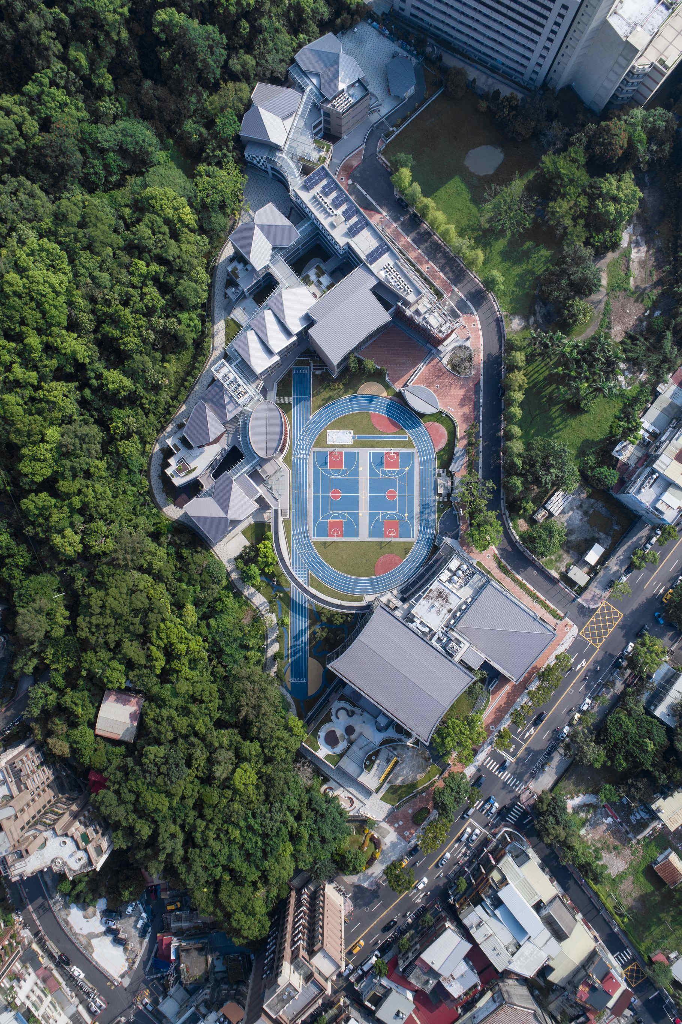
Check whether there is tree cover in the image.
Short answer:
Yes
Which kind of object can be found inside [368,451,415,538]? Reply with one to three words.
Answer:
basketball court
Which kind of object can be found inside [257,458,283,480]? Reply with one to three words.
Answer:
building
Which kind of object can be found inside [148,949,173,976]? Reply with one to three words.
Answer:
house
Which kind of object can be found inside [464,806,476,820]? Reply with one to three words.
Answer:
vehicle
